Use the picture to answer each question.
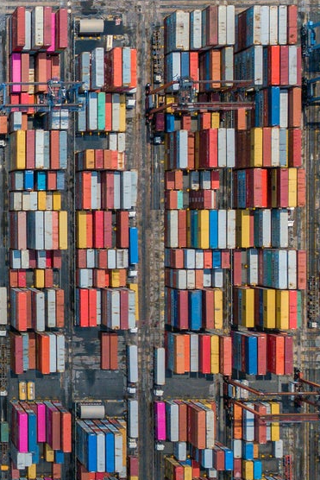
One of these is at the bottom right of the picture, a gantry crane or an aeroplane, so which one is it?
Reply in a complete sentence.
It is a gantry crane that can be seen at the bottom right of the picture.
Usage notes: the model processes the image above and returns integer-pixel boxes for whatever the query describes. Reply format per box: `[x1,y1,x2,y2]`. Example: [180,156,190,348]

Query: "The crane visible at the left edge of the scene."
[0,80,82,111]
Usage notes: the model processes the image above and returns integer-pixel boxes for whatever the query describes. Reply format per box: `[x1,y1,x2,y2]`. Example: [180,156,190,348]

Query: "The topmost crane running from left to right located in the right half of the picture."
[146,79,252,119]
